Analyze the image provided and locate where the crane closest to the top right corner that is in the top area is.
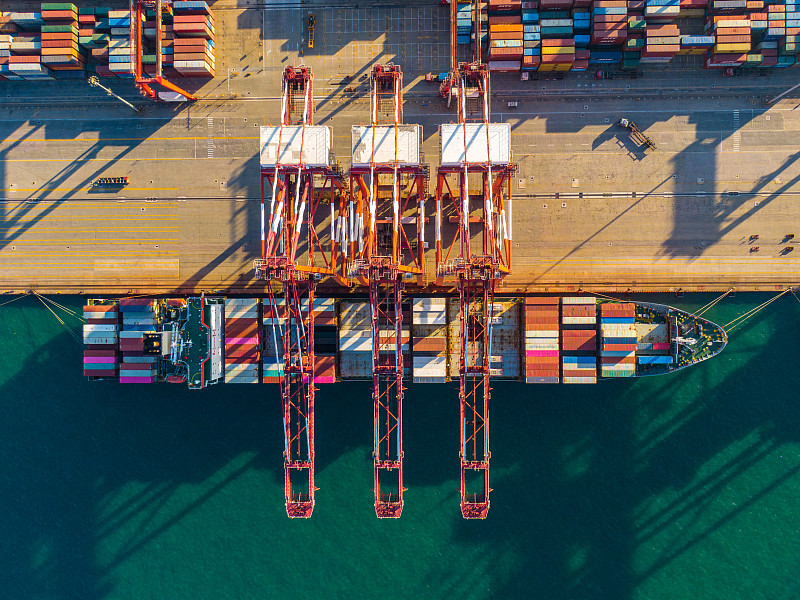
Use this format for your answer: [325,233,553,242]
[432,0,488,102]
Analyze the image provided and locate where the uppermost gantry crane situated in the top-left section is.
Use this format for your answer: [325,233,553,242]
[129,0,204,106]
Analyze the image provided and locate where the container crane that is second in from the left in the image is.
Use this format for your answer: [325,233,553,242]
[253,65,359,516]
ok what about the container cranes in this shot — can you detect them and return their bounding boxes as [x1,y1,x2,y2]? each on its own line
[432,0,488,102]
[346,63,434,517]
[129,0,204,106]
[253,65,359,516]
[423,62,522,517]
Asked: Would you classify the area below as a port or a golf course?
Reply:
port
